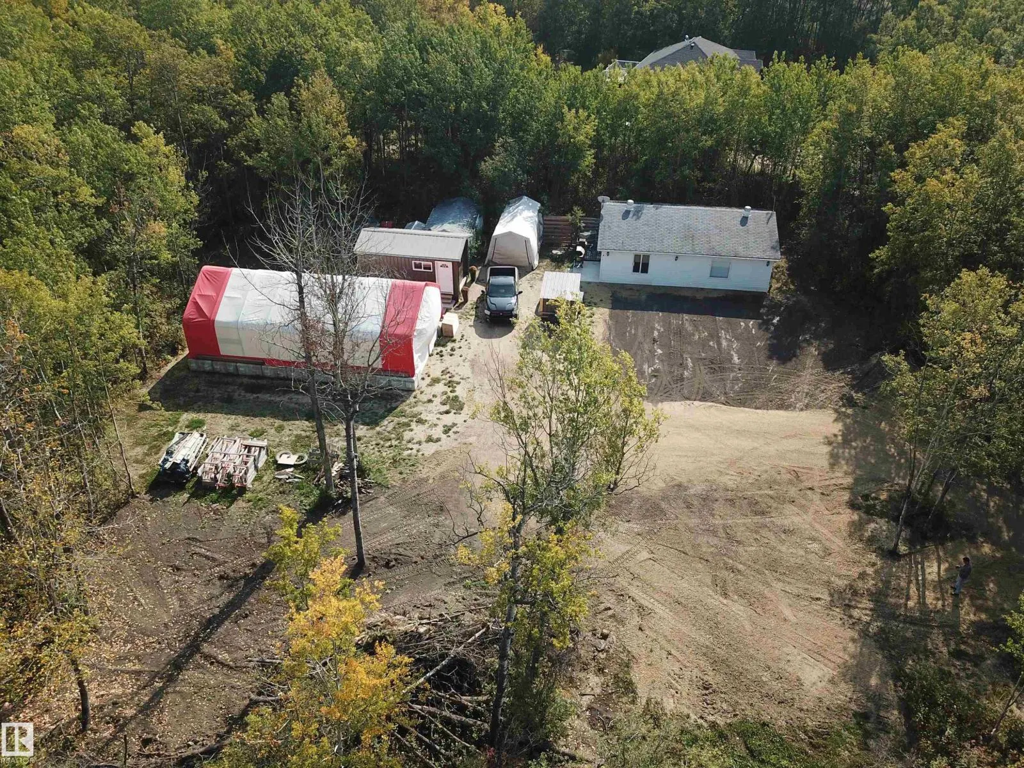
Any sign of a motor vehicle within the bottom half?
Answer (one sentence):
No, I see no motor vehicle within the bottom half.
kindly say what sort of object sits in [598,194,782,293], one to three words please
house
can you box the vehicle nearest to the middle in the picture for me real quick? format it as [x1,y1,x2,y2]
[484,270,523,323]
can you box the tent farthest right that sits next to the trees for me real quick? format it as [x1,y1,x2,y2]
[485,195,545,268]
